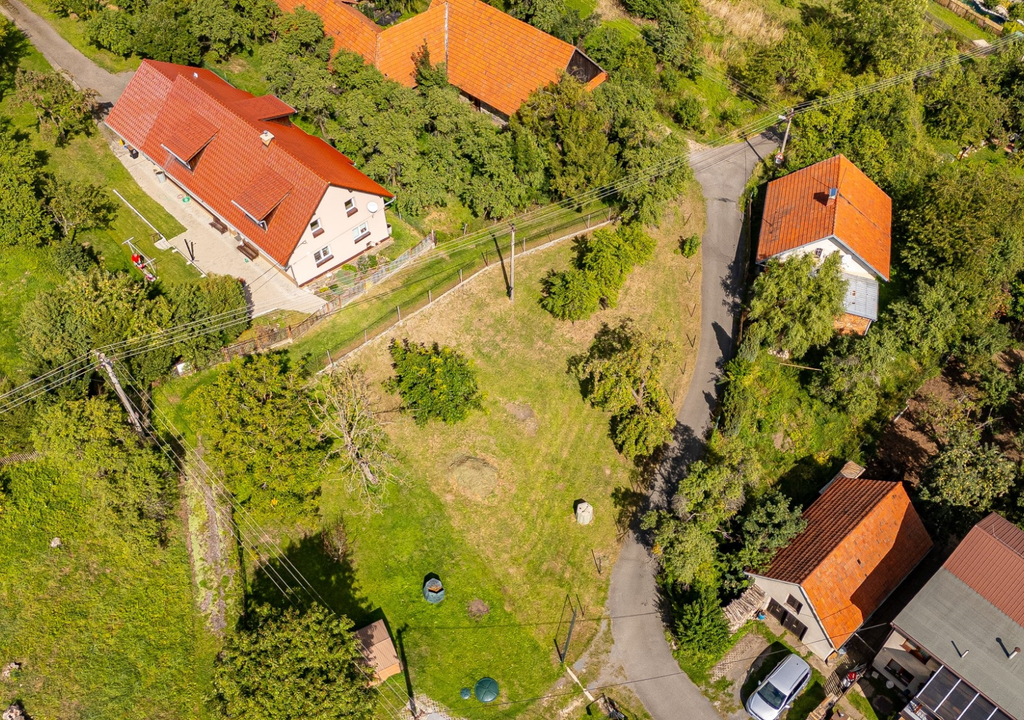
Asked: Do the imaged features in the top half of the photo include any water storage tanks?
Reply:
No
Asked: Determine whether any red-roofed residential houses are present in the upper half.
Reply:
Yes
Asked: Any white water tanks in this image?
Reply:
No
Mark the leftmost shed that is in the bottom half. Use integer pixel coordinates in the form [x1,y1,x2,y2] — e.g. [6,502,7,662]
[355,619,401,685]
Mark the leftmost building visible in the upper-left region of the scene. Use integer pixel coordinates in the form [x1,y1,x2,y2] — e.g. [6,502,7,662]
[104,59,399,289]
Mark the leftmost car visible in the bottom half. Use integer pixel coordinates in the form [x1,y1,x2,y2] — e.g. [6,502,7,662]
[744,651,813,720]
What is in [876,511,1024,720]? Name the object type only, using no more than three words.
house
